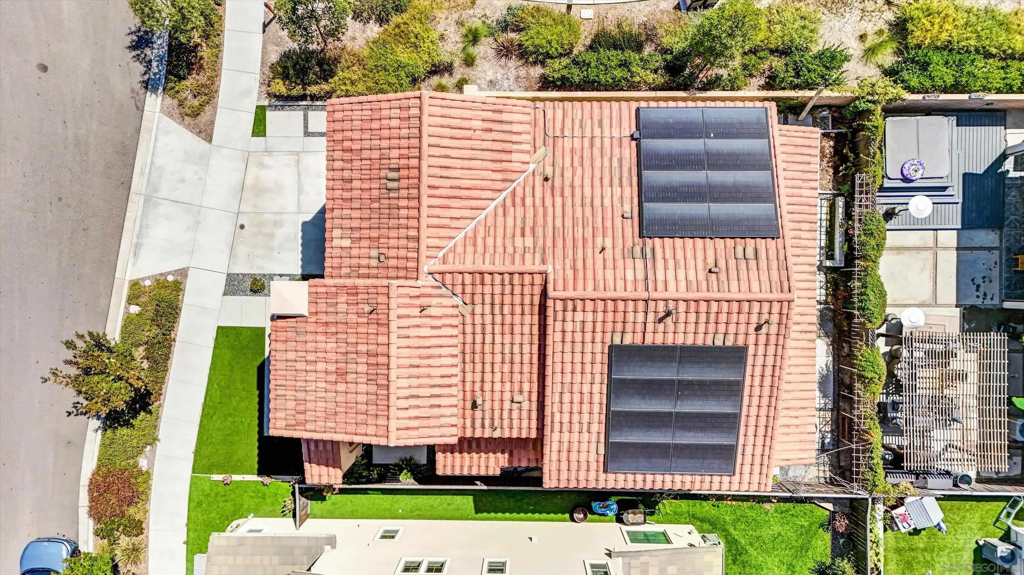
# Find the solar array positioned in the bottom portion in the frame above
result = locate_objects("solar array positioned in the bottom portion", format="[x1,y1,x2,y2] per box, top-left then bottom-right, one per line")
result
[603,343,748,475]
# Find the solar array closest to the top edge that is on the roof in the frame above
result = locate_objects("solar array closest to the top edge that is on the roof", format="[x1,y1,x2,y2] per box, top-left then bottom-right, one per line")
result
[636,107,781,238]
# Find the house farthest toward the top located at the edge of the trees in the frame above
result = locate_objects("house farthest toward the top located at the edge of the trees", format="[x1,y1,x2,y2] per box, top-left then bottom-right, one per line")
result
[268,87,823,495]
